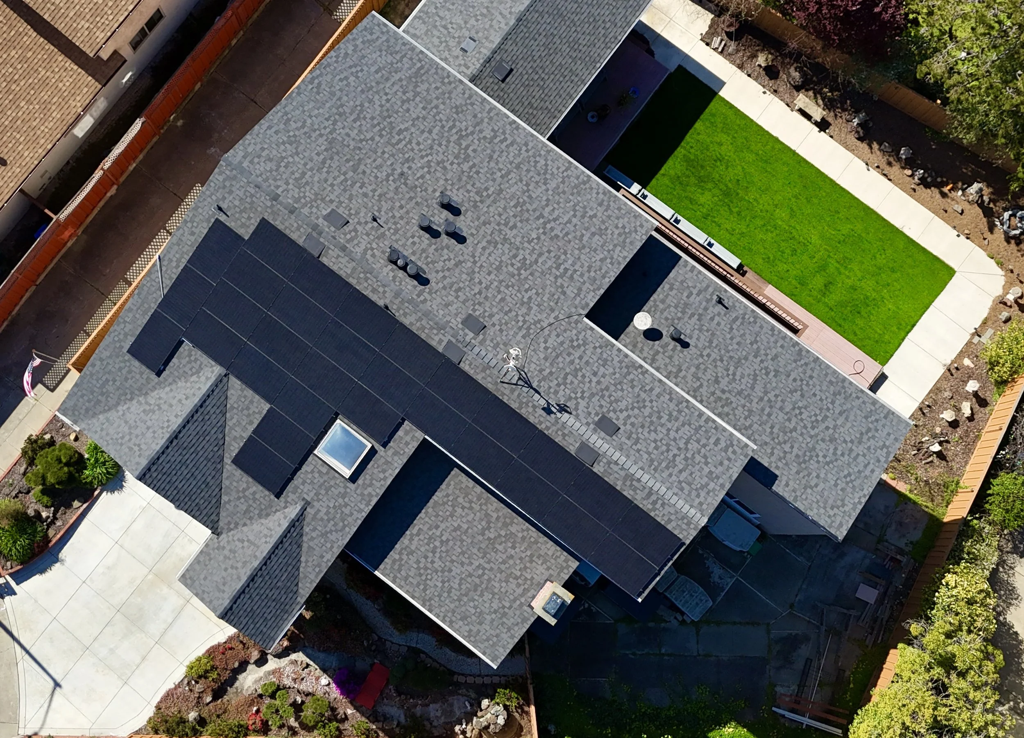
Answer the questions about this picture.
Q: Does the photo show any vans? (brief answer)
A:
No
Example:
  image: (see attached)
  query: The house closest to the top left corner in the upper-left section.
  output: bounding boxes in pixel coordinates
[0,0,201,244]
